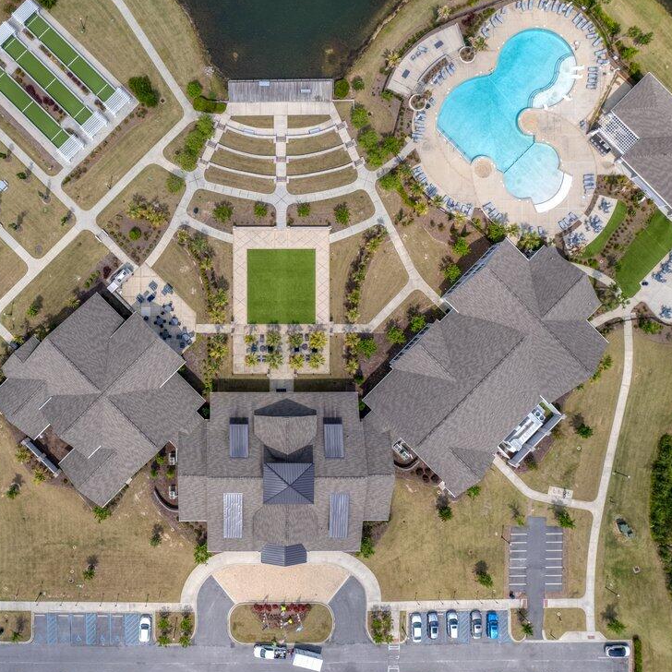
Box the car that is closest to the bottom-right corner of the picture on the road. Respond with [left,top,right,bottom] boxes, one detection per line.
[604,643,629,657]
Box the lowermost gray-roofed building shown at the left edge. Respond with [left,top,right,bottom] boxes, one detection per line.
[0,292,206,508]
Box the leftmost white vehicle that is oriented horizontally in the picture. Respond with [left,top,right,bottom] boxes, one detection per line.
[254,645,287,660]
